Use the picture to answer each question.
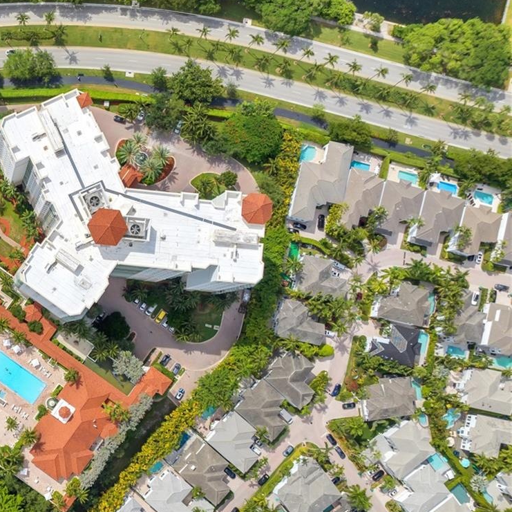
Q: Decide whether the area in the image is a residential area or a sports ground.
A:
residential area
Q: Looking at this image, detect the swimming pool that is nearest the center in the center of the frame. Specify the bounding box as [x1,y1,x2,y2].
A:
[287,241,300,259]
